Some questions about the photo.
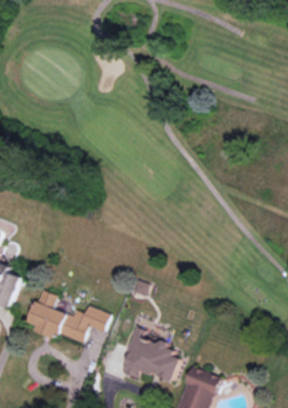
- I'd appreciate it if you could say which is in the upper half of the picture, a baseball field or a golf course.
golf course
